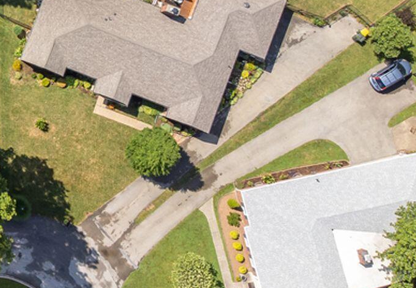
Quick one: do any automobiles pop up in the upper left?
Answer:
No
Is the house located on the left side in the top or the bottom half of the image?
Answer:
top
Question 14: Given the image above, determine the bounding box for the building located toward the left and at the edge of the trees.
[20,0,288,134]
